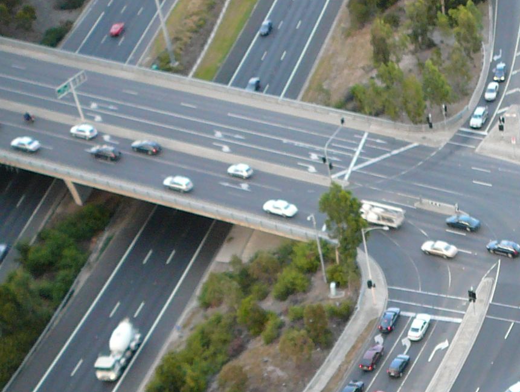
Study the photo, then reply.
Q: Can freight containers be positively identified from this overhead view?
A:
No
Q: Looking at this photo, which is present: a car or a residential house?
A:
car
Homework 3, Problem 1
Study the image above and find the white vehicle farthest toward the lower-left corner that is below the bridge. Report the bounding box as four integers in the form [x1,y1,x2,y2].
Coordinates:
[92,316,138,380]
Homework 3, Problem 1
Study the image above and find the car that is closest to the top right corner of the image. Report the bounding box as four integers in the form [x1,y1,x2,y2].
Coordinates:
[493,63,506,82]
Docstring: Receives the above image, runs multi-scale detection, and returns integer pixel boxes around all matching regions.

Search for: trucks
[356,198,411,229]
[92,316,138,380]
